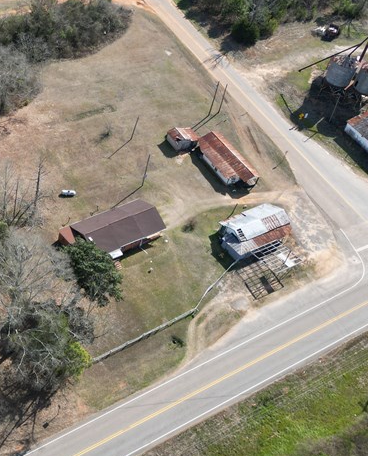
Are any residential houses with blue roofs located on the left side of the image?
No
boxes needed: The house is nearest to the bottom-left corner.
[63,198,169,261]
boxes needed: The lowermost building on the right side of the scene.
[204,208,305,283]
